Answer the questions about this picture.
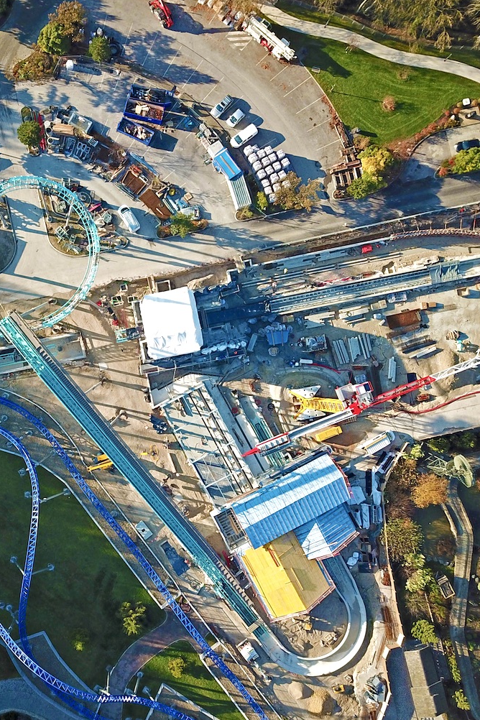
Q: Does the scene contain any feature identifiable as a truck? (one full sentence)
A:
Yes, looking at the shot, I can spot a truck.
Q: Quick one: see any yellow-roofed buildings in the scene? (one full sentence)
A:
Yes, the frame does contain a yellow-roofed building.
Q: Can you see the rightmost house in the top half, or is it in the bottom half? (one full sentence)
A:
You can find the rightmost house in the bottom half.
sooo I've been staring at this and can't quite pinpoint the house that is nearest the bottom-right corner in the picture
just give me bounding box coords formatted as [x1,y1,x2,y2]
[400,641,448,718]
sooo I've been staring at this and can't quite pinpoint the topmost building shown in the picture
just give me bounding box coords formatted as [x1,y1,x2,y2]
[139,288,205,360]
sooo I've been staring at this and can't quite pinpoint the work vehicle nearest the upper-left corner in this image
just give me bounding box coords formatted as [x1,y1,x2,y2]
[149,0,173,29]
